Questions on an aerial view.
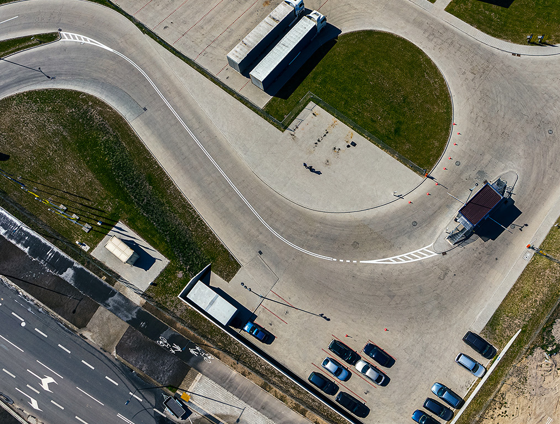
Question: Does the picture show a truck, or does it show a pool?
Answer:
truck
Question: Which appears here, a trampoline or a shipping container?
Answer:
shipping container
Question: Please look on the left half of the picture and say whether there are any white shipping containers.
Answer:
Yes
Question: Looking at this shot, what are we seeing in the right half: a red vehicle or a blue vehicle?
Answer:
blue vehicle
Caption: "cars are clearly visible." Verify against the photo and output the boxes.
[245,319,271,344]
[321,353,349,382]
[355,356,386,388]
[432,379,465,413]
[424,394,453,422]
[328,335,358,366]
[309,368,339,398]
[463,327,497,360]
[412,405,443,424]
[366,341,394,370]
[335,387,369,420]
[456,349,485,378]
